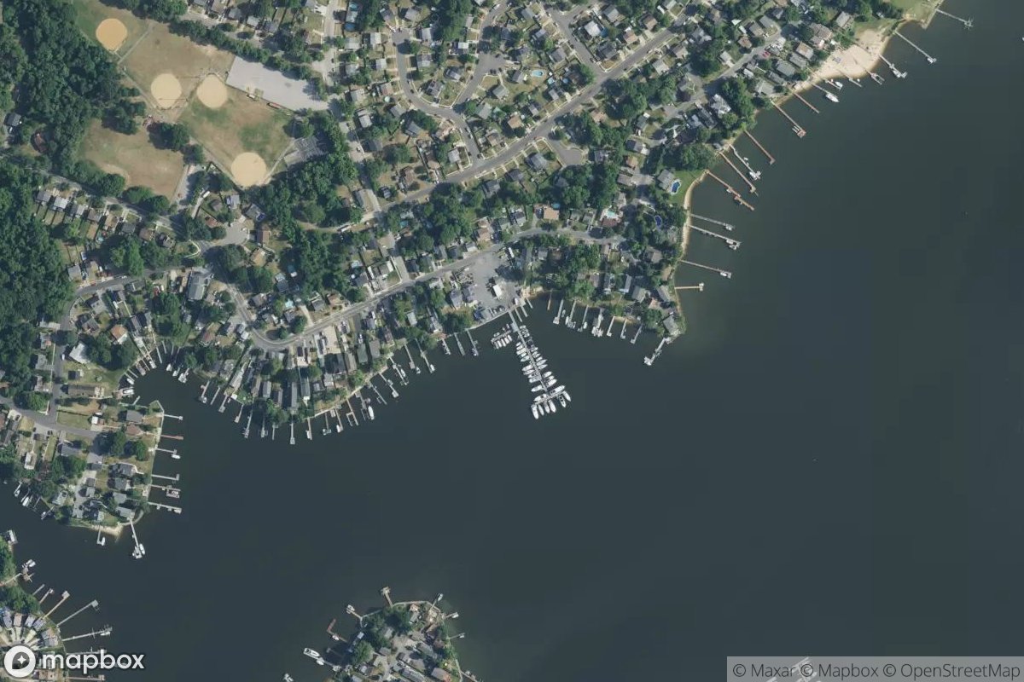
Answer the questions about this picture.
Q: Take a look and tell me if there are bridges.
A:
No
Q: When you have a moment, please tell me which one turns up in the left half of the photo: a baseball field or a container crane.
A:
baseball field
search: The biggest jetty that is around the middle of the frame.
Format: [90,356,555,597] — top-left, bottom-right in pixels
[491,307,564,404]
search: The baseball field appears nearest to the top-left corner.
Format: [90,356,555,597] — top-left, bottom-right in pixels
[74,0,148,61]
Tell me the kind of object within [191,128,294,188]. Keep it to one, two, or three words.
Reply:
baseball field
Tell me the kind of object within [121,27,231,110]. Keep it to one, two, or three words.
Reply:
baseball field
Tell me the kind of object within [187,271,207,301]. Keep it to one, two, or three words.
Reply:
house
